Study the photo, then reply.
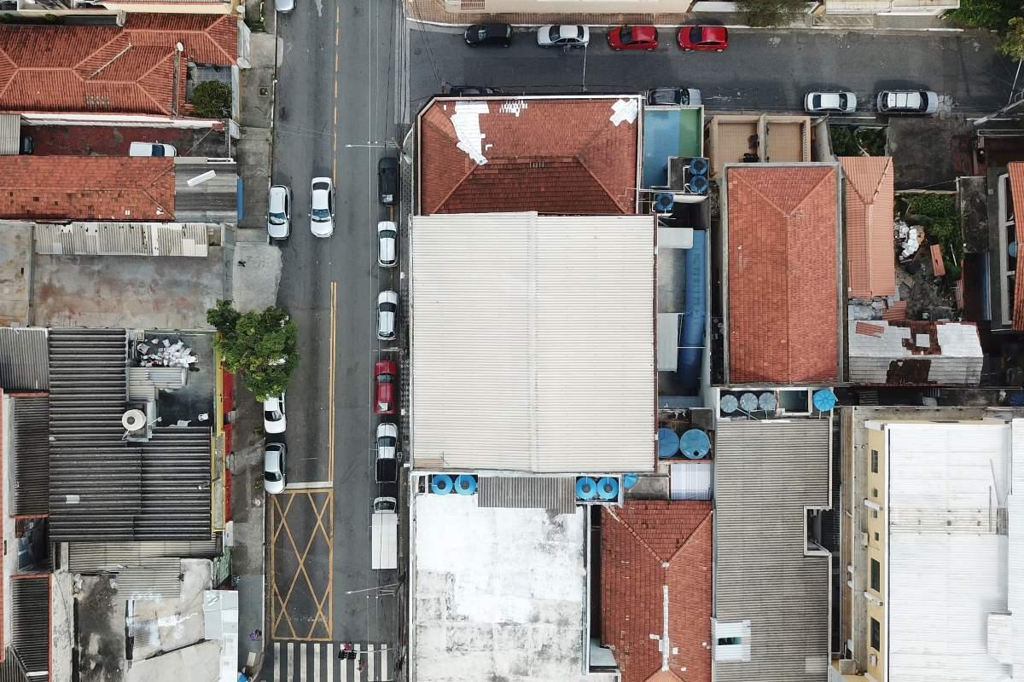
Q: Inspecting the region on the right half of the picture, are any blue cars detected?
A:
No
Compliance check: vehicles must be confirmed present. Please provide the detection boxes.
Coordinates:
[374,157,403,207]
[260,377,290,434]
[606,23,659,53]
[802,87,856,117]
[676,23,729,54]
[307,177,337,239]
[263,185,294,242]
[373,423,401,484]
[0,134,37,156]
[334,651,360,664]
[537,20,589,52]
[465,19,513,50]
[645,83,702,105]
[874,86,937,117]
[274,0,299,15]
[373,222,402,267]
[124,137,179,157]
[368,494,402,573]
[373,291,401,341]
[260,442,290,494]
[371,359,399,415]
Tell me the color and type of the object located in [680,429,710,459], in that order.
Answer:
blue water tank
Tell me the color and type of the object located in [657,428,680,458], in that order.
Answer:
blue water tank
